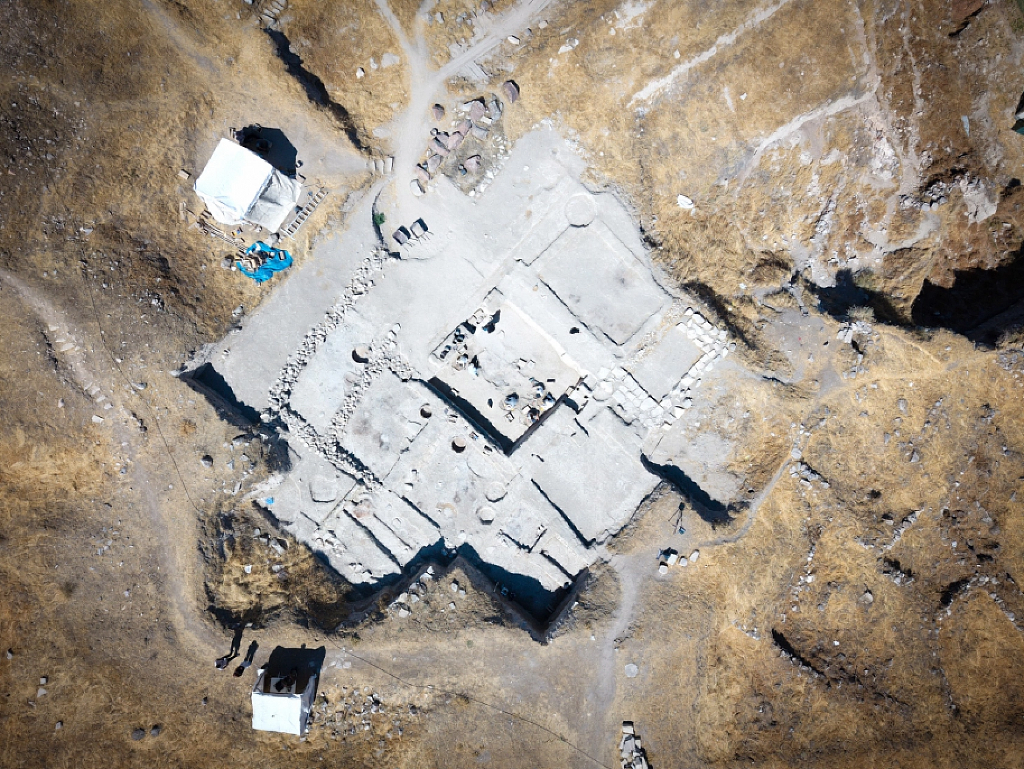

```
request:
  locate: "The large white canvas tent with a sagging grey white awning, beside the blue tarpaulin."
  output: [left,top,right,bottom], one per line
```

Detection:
[195,138,307,235]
